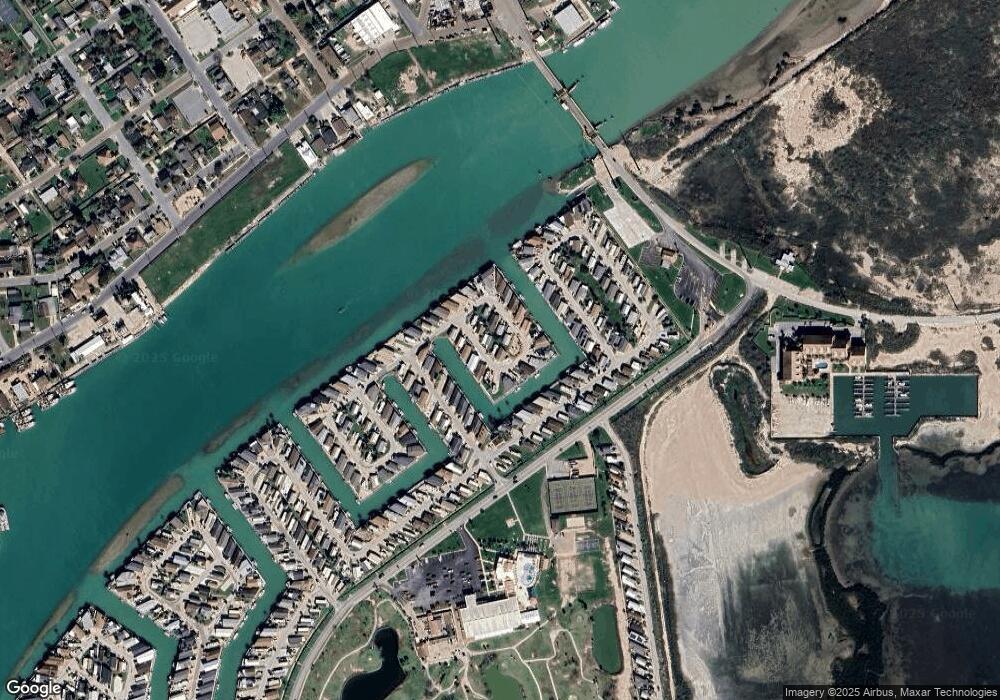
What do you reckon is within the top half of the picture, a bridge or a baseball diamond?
bridge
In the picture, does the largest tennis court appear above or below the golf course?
above it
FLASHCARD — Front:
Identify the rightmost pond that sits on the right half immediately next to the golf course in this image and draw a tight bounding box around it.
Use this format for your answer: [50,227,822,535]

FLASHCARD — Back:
[592,604,622,675]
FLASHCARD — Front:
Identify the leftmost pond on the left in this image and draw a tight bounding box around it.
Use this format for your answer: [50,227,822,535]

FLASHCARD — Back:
[341,627,410,700]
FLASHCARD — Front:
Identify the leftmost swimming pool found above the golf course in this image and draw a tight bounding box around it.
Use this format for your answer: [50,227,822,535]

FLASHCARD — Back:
[518,554,539,587]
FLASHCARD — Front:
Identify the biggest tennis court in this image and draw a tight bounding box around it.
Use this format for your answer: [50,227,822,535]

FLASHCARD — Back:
[547,475,597,515]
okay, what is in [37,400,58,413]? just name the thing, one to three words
boat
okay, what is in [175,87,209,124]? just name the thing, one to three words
building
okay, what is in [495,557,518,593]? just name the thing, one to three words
building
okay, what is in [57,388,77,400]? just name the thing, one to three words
boat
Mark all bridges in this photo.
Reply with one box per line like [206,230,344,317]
[527,49,607,154]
